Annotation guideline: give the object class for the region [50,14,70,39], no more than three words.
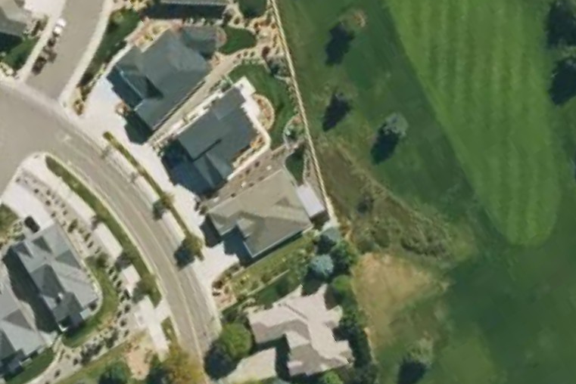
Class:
vehicle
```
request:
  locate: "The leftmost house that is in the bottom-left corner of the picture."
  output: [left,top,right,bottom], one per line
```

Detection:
[0,281,47,370]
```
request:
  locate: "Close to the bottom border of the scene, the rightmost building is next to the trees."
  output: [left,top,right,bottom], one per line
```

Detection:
[244,278,352,379]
